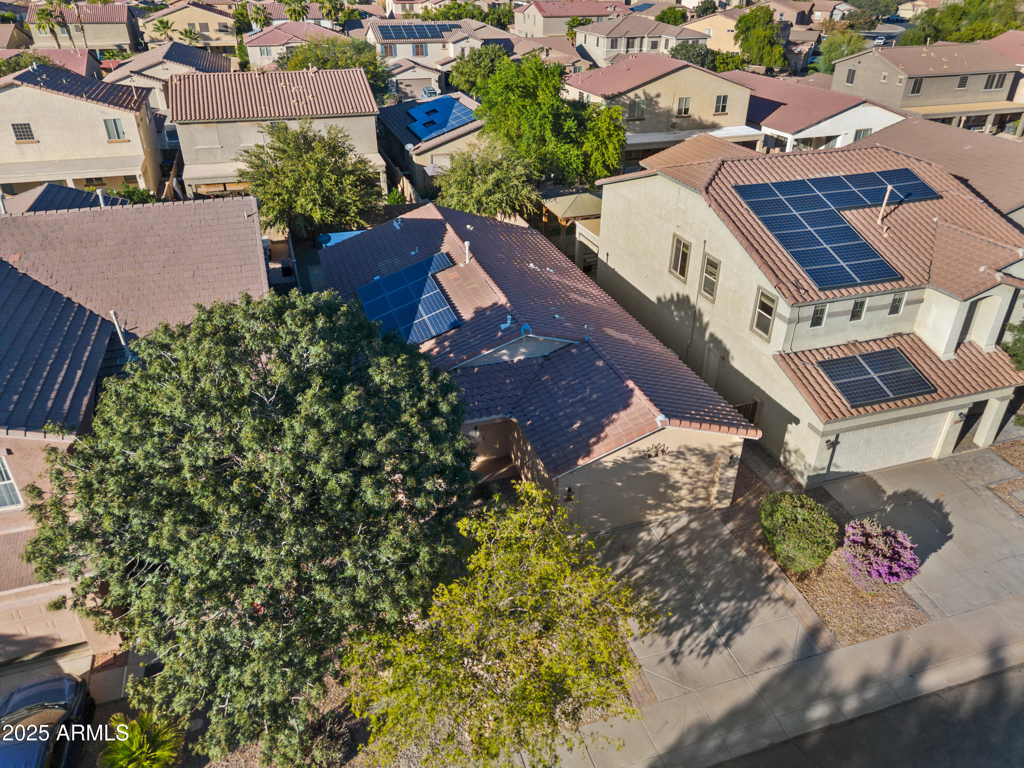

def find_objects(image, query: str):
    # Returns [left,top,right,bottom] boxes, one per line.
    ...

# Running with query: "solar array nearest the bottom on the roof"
[819,345,939,404]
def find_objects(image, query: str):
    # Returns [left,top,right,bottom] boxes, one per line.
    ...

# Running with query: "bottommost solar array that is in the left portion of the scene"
[355,247,458,340]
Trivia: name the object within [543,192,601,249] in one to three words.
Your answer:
gazebo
